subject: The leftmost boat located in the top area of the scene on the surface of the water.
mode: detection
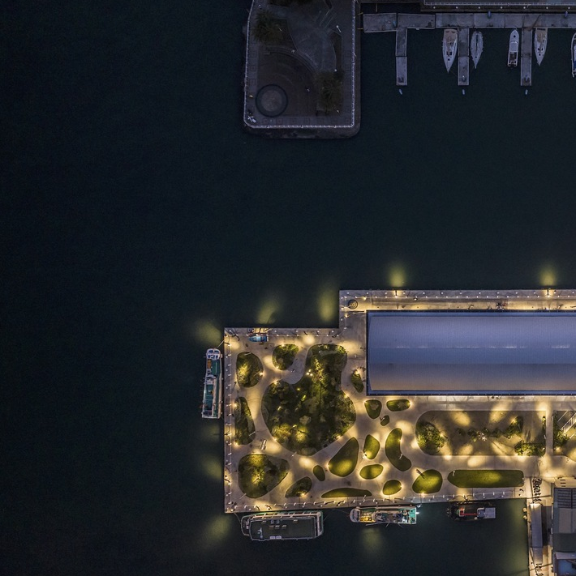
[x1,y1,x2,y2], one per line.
[443,29,456,71]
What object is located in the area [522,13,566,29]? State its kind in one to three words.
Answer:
pier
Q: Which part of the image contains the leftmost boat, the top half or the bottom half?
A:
bottom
